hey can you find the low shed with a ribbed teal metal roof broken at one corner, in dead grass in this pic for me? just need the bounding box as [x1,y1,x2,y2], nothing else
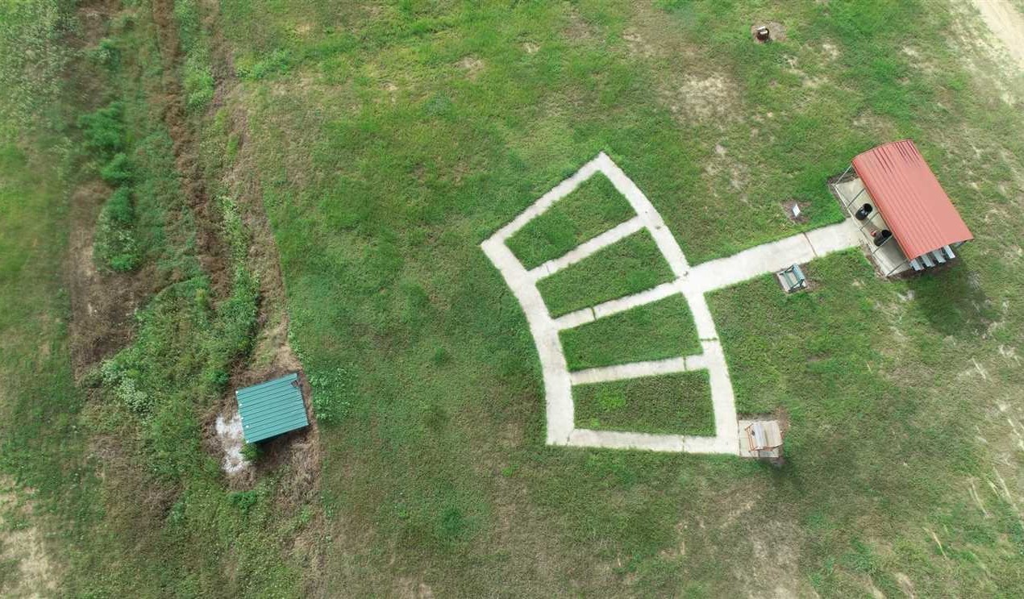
[236,374,309,443]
